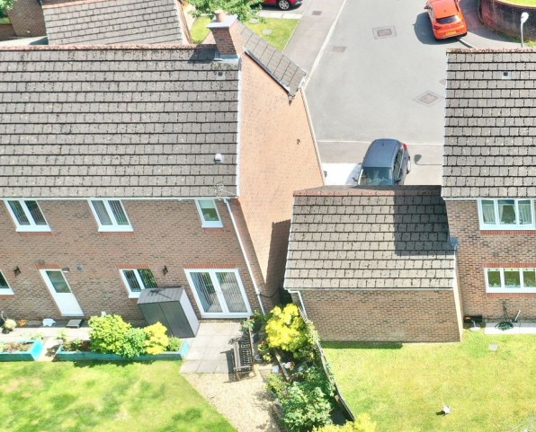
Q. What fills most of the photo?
buildings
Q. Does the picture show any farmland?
No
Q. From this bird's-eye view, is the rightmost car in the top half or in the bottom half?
top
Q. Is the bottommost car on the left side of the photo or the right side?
right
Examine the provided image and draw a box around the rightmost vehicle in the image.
[428,0,470,34]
